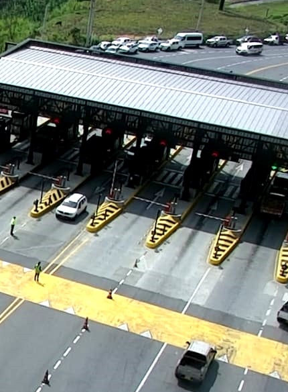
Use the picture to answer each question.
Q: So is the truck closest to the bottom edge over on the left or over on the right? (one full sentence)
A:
The truck closest to the bottom edge is on the right side of the image.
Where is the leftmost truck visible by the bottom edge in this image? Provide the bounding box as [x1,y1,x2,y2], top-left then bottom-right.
[172,343,218,389]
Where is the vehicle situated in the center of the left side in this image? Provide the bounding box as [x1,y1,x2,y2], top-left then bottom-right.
[56,190,87,222]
